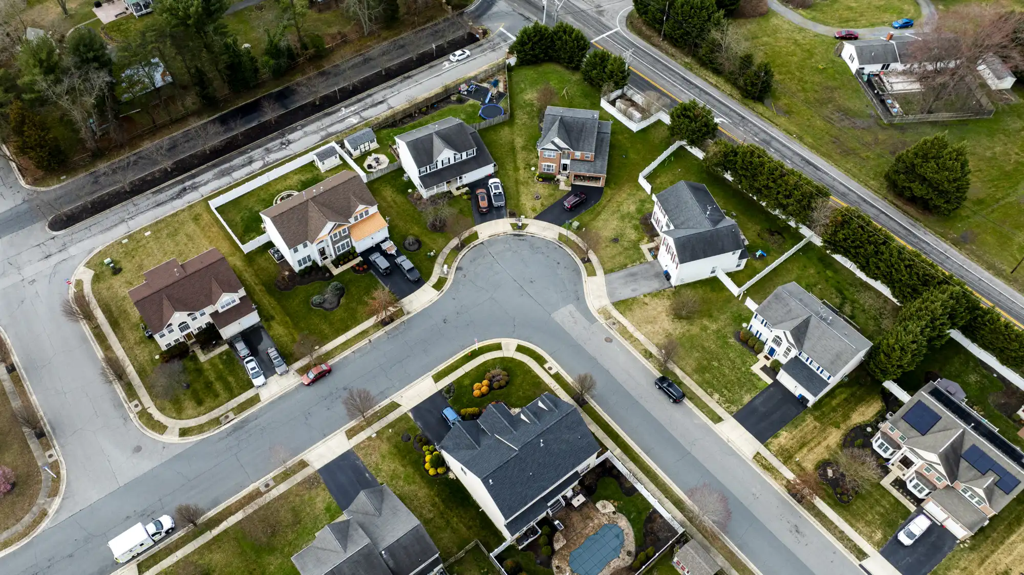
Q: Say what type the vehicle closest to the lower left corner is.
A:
truck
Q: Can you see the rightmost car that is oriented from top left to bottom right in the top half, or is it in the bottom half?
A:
bottom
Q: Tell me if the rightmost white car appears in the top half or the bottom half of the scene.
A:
bottom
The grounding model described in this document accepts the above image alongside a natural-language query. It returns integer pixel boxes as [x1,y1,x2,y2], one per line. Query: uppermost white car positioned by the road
[449,49,471,62]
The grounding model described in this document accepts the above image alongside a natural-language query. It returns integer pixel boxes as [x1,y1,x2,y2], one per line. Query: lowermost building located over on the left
[291,484,444,575]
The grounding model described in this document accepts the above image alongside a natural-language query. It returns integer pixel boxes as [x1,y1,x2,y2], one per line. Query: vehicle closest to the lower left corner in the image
[100,523,173,574]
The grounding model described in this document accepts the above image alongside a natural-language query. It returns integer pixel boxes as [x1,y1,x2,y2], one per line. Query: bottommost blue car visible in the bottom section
[437,404,464,432]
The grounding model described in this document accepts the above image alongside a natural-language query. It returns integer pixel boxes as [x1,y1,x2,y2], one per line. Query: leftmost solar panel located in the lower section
[900,396,945,437]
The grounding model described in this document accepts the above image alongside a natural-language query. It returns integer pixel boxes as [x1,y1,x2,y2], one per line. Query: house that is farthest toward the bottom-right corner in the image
[873,376,1024,541]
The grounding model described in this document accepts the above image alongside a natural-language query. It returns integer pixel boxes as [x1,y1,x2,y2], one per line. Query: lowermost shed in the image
[671,541,728,575]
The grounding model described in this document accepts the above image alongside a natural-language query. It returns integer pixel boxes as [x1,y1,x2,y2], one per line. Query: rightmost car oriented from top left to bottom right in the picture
[653,376,687,406]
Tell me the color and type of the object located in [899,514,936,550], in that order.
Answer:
white car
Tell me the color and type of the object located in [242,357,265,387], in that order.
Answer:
white car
